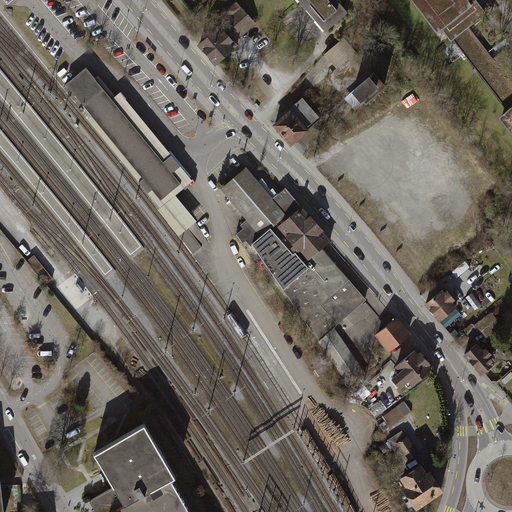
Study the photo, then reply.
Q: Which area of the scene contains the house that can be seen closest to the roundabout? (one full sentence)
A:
You can find the house that can be seen closest to the roundabout in the bottom right area of the picture.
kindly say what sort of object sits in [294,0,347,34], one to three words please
building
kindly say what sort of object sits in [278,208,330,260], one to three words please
house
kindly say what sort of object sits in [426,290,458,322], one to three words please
house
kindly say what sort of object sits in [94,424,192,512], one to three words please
building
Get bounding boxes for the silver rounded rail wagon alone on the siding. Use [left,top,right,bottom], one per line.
[228,307,248,336]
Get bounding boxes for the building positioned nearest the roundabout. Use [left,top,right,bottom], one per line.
[400,464,444,511]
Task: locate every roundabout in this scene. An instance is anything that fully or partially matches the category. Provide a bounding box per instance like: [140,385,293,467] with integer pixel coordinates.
[466,440,512,512]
